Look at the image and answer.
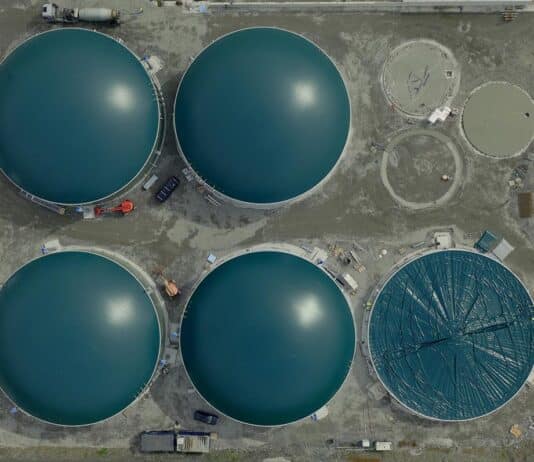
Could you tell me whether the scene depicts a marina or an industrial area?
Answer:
industrial area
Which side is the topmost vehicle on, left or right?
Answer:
left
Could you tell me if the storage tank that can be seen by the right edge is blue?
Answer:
Yes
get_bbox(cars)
[154,176,181,203]
[192,409,220,425]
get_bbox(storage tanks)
[0,246,168,427]
[178,246,358,427]
[172,27,353,209]
[0,27,167,210]
[362,245,534,422]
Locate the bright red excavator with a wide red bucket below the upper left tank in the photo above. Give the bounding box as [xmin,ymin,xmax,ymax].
[96,200,135,216]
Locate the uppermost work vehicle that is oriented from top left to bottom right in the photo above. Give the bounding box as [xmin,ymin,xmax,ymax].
[156,269,178,296]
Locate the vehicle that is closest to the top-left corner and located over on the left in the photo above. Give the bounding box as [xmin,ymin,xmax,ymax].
[41,3,120,22]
